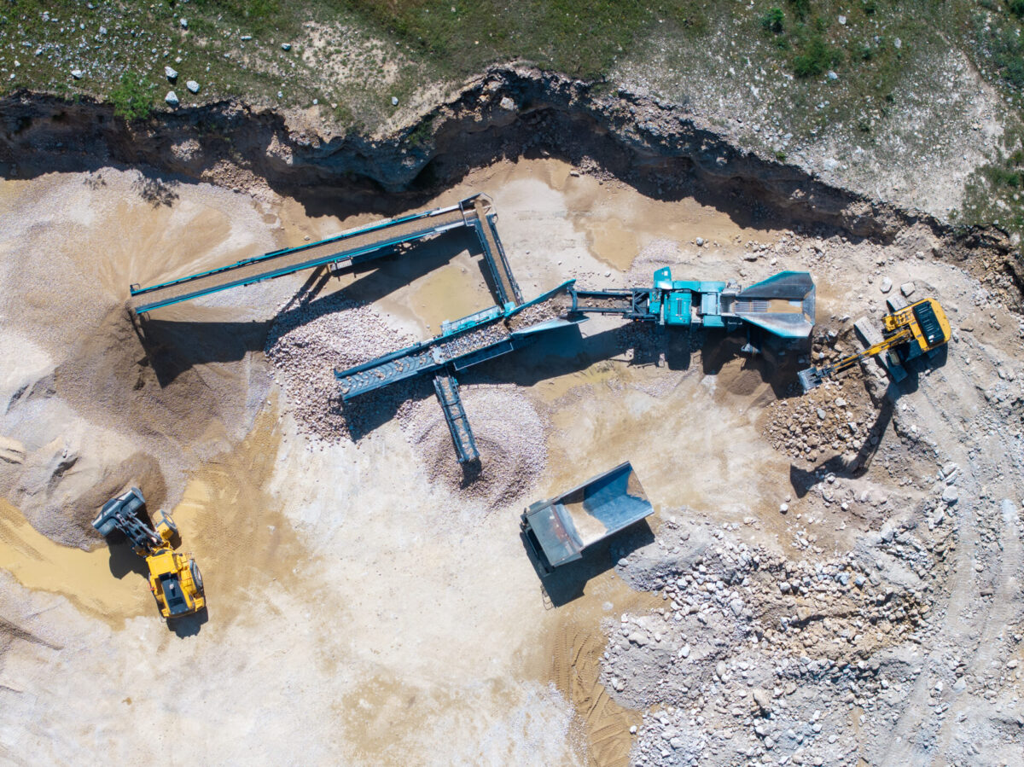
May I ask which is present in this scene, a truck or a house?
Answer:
truck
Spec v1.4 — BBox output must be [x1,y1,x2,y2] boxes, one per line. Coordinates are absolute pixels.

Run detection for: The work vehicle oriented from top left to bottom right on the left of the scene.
[94,486,206,623]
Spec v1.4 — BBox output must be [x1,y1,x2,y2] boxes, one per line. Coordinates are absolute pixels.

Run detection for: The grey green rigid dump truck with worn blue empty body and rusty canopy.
[522,461,654,567]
